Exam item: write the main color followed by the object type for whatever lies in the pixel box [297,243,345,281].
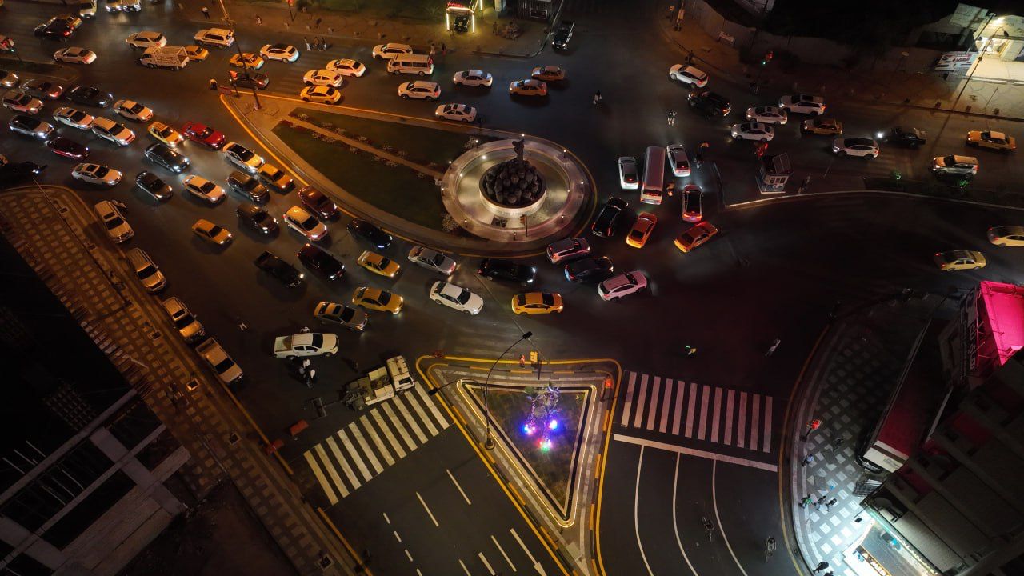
black car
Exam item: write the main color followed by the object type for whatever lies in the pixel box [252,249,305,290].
black truck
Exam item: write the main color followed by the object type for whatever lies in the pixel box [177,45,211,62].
orange car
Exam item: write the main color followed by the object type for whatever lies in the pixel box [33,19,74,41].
black car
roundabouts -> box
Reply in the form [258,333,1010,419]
[227,92,595,255]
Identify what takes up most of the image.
paved ground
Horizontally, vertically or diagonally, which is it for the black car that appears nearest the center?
horizontally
